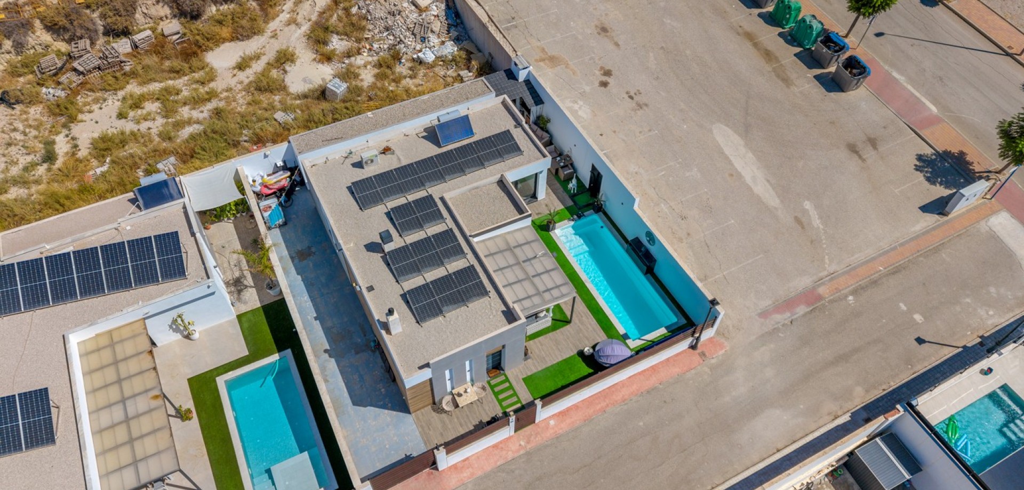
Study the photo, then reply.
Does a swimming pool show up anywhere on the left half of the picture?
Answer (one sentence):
Yes, the scene does show a swimming pool on the left half of the picture.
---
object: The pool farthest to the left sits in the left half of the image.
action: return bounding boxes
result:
[214,349,341,490]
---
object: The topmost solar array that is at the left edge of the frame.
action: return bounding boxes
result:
[0,230,189,318]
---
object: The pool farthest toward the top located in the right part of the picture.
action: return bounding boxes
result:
[547,209,687,349]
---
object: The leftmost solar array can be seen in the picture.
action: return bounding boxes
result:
[0,386,64,459]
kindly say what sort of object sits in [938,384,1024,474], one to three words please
swimming pool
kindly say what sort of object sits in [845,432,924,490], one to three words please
shed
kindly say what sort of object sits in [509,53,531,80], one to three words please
chimney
